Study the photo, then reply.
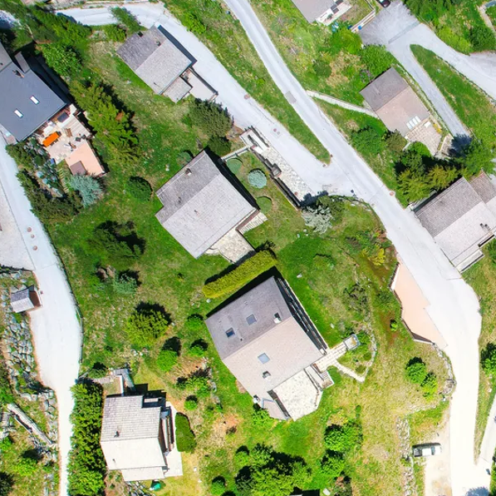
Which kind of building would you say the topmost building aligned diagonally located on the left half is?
house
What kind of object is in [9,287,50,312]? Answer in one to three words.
shed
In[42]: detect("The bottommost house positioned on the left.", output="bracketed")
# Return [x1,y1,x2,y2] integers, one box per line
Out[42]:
[99,374,187,481]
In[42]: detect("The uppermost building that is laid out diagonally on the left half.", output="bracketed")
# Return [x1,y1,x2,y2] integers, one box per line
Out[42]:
[120,25,222,110]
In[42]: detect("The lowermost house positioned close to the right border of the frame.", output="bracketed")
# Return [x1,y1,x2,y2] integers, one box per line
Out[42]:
[408,171,496,273]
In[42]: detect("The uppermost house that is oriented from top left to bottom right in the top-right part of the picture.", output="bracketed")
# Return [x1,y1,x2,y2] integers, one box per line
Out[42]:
[360,68,455,160]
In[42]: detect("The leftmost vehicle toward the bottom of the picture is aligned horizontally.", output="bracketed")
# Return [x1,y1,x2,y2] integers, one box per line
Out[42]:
[413,443,442,456]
